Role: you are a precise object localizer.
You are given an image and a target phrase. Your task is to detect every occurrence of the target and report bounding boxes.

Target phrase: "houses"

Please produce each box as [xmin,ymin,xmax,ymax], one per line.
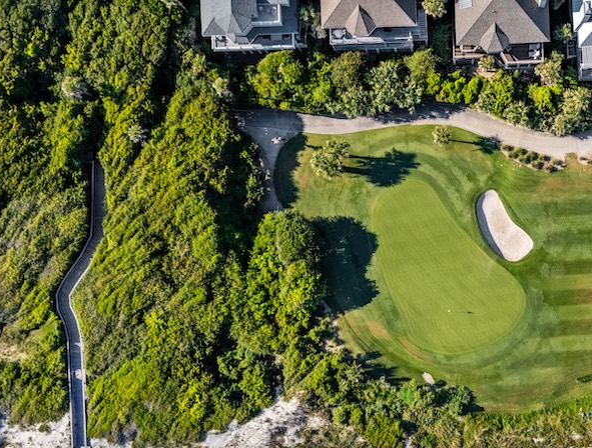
[563,0,592,84]
[453,0,550,69]
[201,0,309,56]
[320,0,428,55]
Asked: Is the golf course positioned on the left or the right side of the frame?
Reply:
right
